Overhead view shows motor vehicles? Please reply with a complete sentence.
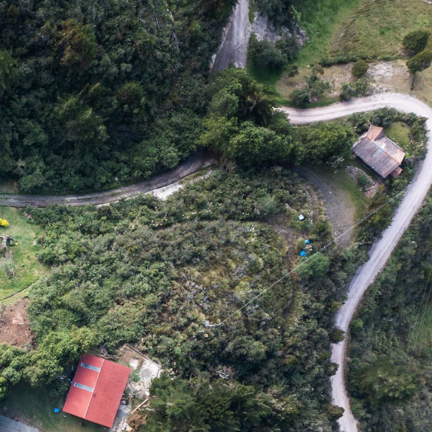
No, I can see no motor vehicle in this picture.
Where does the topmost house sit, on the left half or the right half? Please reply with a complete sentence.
It is on the right.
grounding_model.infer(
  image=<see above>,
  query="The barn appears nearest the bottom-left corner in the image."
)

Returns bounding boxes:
[63,355,131,428]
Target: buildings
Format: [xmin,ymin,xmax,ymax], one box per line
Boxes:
[63,355,131,428]
[350,125,404,178]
